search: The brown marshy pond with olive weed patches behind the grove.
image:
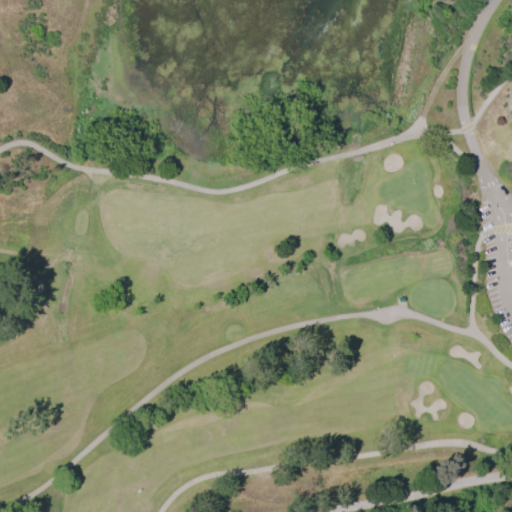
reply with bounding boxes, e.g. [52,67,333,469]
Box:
[121,0,410,170]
